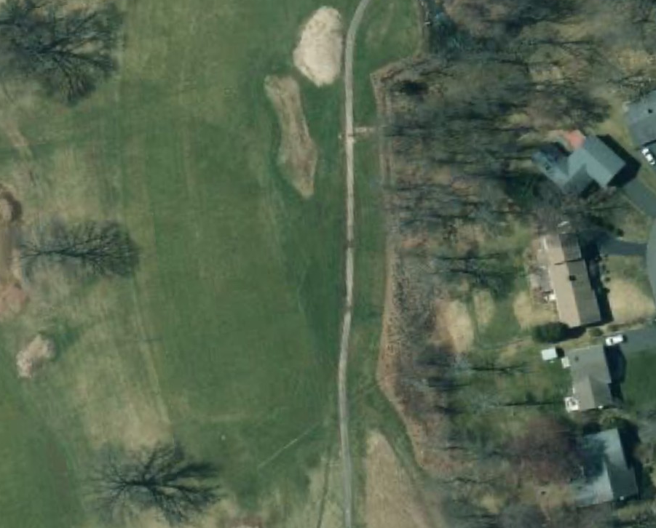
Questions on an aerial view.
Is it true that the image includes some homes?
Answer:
Yes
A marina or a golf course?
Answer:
golf course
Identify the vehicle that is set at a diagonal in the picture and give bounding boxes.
[641,148,656,165]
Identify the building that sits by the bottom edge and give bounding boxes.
[580,429,646,505]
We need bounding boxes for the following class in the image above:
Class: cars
[641,148,656,165]
[606,335,624,344]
